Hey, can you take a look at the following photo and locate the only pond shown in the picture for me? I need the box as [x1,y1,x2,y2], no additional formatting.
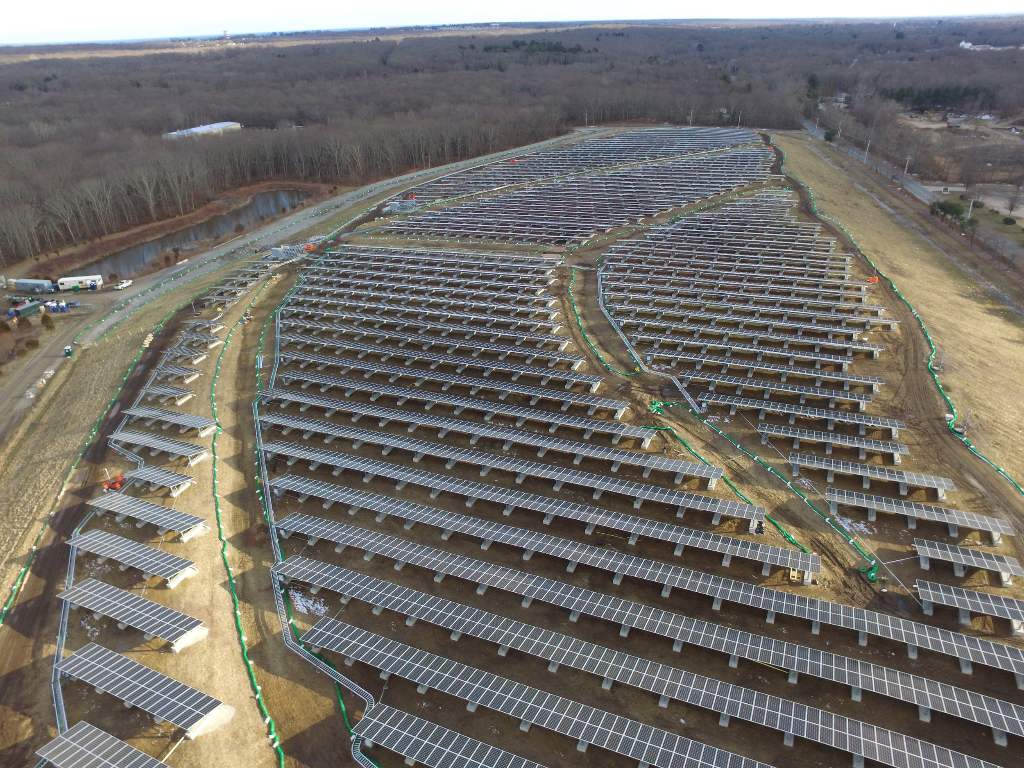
[72,190,311,283]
